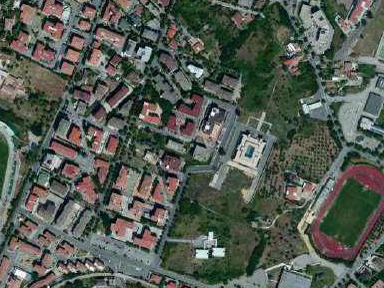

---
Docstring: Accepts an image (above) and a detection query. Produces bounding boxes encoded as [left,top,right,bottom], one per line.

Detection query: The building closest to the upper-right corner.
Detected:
[335,0,373,35]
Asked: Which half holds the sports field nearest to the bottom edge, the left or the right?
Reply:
right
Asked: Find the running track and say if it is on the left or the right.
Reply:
right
